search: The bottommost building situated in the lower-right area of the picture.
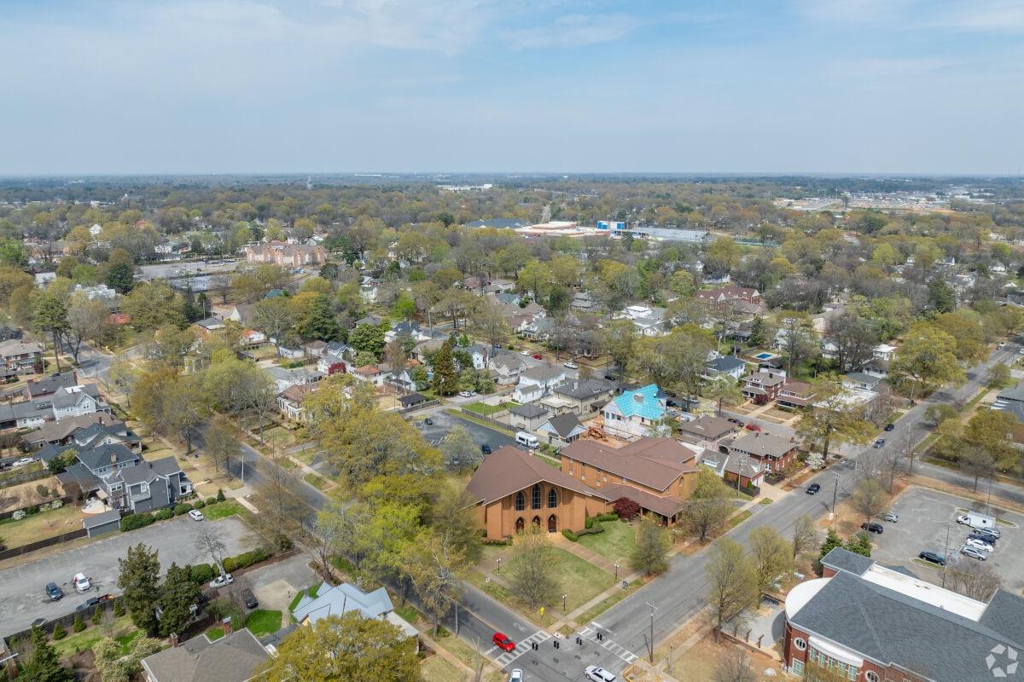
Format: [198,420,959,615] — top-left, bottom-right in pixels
[774,545,1024,682]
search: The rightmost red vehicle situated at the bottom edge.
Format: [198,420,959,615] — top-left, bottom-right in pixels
[492,631,517,652]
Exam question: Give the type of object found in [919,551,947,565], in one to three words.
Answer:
car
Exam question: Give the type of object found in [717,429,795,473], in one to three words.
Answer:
house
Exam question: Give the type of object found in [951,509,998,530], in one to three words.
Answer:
truck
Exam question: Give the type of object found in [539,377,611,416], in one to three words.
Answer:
house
